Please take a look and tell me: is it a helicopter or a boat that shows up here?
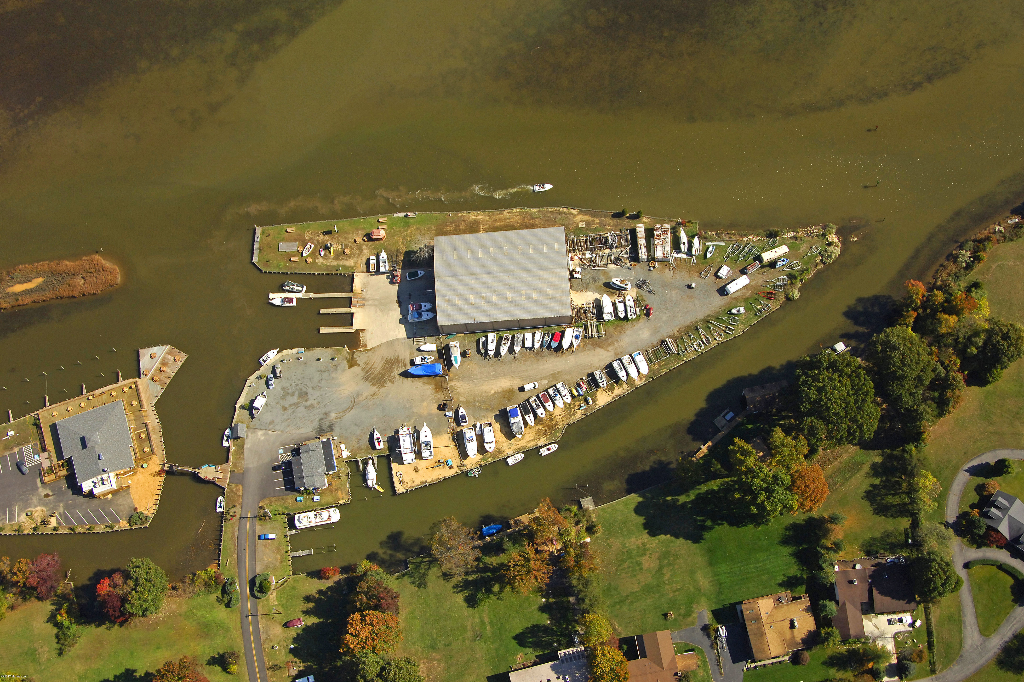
boat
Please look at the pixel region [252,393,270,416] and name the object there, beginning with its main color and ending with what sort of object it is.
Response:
white boat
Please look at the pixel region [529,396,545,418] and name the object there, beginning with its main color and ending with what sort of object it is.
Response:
white boat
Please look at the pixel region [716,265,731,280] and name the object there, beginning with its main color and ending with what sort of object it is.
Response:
white vehicle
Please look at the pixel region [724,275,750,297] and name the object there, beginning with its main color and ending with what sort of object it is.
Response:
white camper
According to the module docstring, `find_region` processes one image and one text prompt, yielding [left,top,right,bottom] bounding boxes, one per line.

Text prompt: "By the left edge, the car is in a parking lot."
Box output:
[17,460,30,476]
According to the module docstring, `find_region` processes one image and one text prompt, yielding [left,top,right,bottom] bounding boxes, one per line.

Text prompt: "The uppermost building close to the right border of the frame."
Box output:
[981,491,1024,541]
